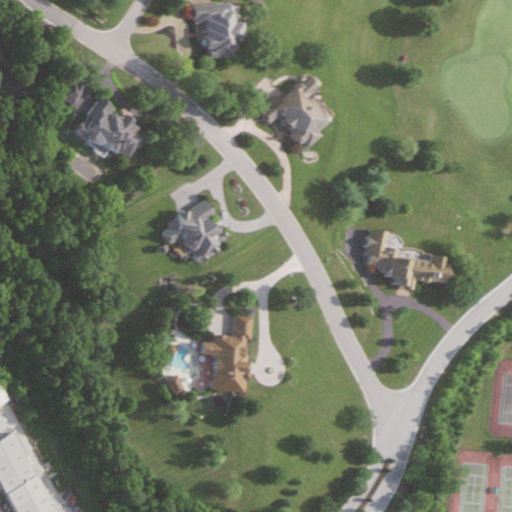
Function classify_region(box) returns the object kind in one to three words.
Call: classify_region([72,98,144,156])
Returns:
house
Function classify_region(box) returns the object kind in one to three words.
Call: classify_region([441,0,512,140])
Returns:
golf course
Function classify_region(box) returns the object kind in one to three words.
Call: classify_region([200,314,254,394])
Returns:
house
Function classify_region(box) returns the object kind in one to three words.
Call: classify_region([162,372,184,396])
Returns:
building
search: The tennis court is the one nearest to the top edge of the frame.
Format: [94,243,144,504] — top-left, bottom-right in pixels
[490,358,512,438]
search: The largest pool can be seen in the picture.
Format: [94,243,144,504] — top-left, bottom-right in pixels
[171,346,191,372]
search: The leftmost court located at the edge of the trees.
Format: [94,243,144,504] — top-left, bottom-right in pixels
[450,450,497,512]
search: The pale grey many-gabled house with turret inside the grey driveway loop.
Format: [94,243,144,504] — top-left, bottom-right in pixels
[161,198,226,264]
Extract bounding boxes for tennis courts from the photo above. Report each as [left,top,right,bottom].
[450,450,497,512]
[490,358,512,438]
[493,455,512,512]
